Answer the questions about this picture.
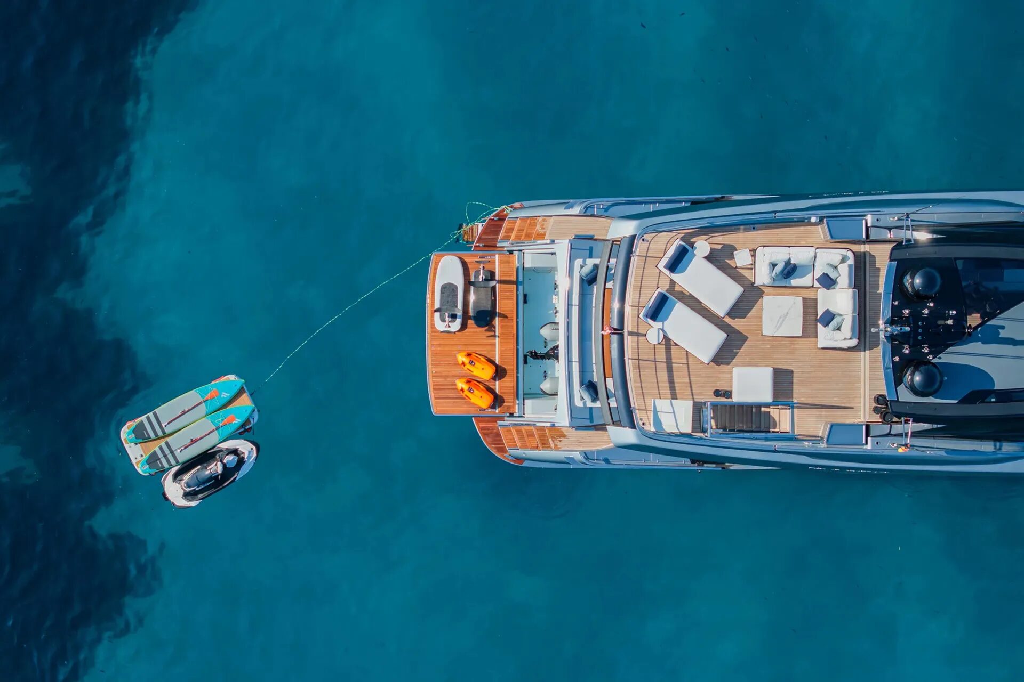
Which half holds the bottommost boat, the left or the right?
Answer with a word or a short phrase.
left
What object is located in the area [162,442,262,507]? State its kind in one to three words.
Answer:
boat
